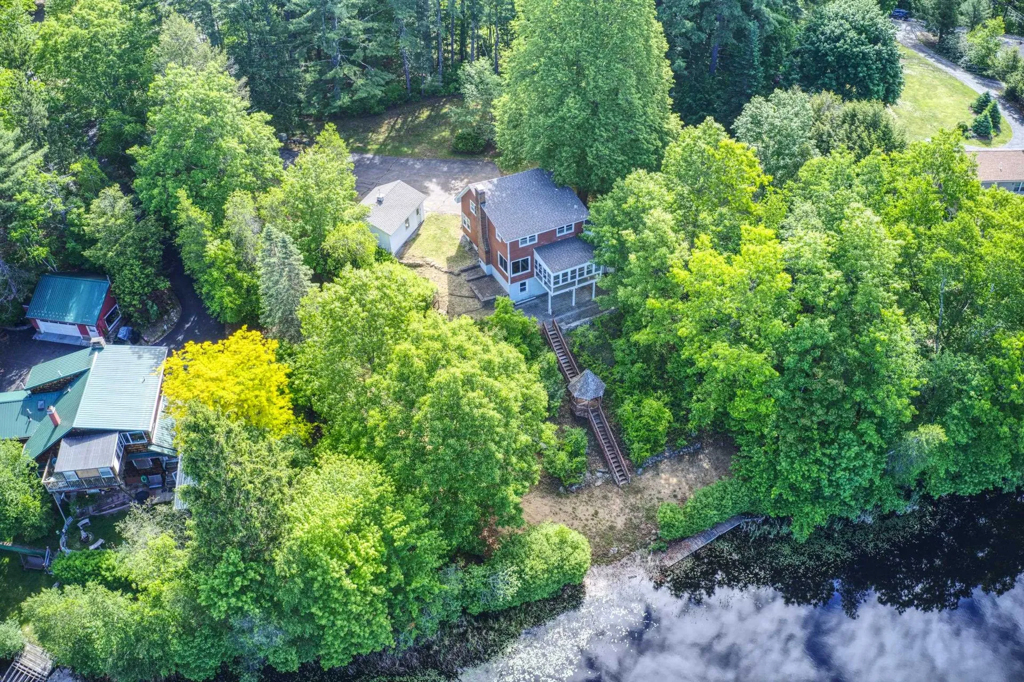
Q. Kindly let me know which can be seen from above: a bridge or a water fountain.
water fountain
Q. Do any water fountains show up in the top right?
No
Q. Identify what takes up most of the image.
trees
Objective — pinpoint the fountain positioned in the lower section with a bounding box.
[71,525,104,551]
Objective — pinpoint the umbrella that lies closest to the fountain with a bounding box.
[131,488,152,504]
